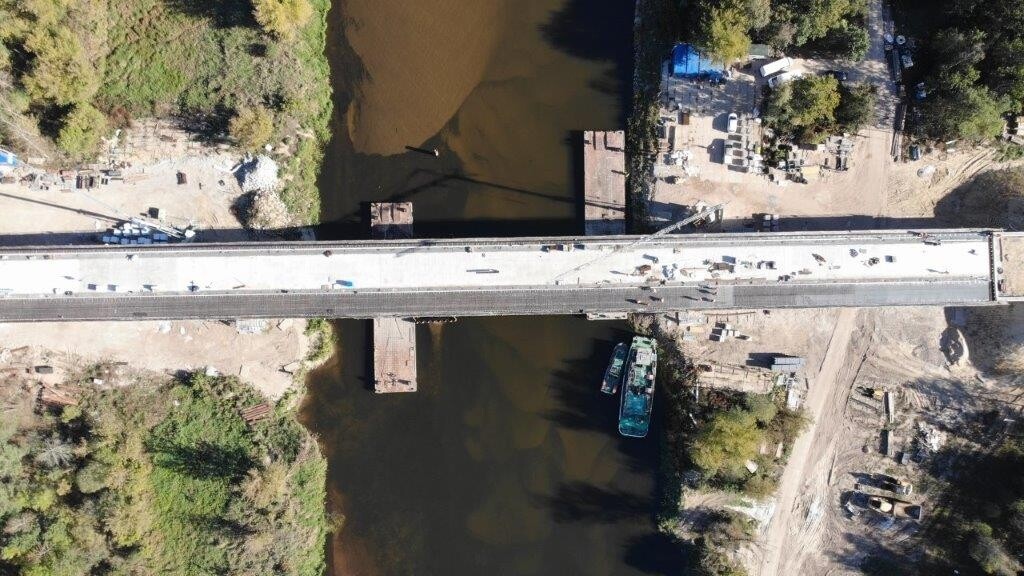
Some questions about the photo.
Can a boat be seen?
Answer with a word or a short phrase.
Yes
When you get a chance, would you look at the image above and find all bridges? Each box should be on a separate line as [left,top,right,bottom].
[0,227,1024,322]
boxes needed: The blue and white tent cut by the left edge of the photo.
[0,147,20,172]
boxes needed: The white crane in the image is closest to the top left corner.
[77,187,197,243]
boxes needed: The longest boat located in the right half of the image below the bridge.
[617,334,660,439]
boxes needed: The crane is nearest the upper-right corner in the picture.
[556,199,731,279]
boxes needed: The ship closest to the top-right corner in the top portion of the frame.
[583,131,628,236]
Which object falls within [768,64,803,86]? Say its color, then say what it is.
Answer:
white vehicle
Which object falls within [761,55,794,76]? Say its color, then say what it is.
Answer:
white truck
